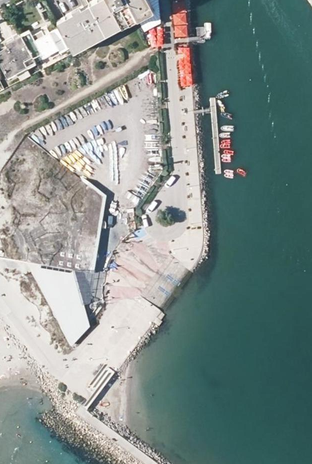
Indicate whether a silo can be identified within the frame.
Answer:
No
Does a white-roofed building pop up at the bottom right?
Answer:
No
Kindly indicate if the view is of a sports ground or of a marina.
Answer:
marina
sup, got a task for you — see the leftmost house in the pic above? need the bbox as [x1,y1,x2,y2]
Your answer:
[0,36,33,76]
